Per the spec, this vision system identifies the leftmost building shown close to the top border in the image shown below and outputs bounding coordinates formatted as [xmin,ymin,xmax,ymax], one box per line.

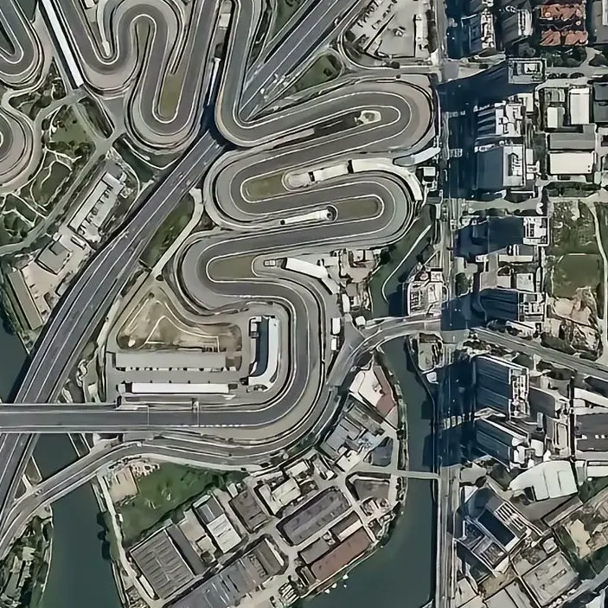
[39,0,85,88]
